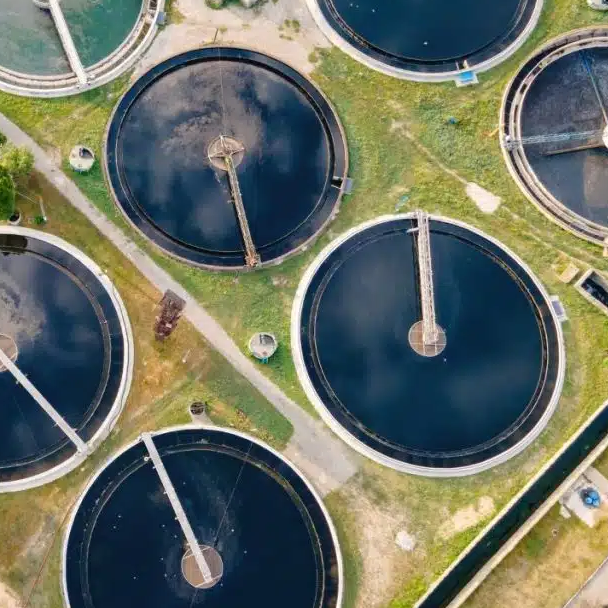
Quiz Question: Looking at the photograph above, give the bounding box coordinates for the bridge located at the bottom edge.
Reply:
[136,431,213,582]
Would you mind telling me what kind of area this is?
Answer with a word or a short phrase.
industrial area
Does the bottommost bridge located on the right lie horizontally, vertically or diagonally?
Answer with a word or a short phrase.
vertically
